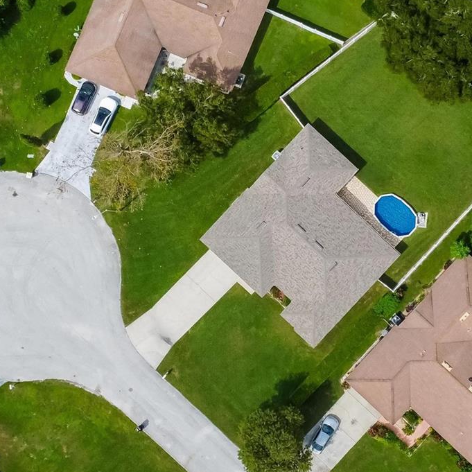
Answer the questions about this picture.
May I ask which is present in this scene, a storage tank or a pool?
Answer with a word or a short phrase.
pool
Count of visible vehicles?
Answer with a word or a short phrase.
three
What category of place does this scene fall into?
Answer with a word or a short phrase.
residential area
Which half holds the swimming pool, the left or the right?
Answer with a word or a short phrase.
right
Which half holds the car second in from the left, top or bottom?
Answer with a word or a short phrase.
top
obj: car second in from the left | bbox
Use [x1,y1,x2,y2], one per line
[91,95,118,136]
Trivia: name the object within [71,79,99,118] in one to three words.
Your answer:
car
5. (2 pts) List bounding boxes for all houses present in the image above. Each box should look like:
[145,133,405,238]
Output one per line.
[65,0,270,99]
[199,123,401,348]
[346,254,472,463]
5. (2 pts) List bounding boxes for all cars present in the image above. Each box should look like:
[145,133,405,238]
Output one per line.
[91,95,118,136]
[312,414,339,455]
[71,79,99,118]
